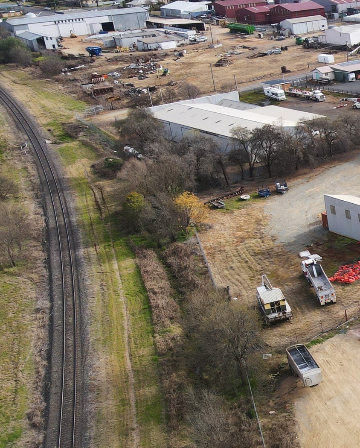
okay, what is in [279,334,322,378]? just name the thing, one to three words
trailer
